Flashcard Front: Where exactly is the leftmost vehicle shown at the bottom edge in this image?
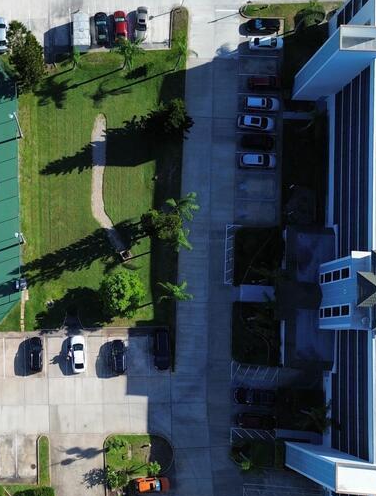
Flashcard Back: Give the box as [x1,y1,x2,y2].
[135,476,171,495]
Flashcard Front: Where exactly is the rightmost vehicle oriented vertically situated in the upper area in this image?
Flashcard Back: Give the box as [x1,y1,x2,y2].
[133,5,150,44]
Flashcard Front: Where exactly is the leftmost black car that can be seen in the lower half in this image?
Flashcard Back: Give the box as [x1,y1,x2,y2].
[27,338,45,373]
